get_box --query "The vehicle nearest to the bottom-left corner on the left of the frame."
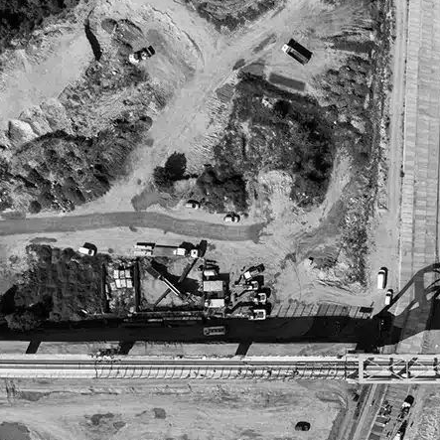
[78,241,95,257]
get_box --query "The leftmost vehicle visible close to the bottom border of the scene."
[294,419,312,434]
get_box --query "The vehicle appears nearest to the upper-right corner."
[282,41,314,68]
